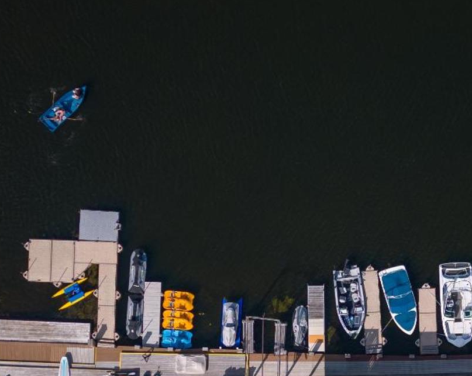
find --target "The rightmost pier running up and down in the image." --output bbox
[413,280,445,354]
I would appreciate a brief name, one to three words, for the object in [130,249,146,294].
boat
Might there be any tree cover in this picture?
No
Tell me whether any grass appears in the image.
No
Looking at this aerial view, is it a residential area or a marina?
marina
